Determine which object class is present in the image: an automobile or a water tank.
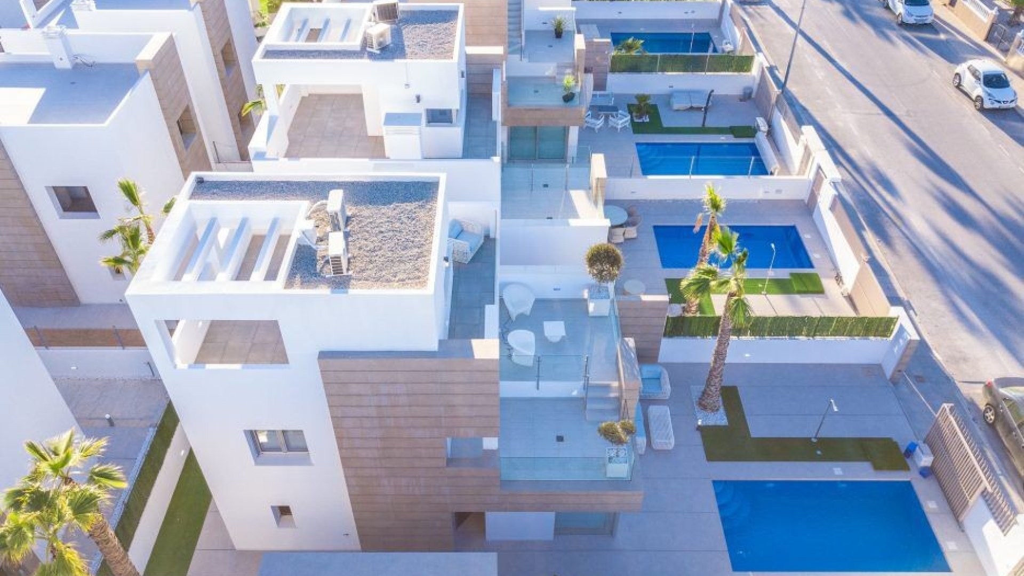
automobile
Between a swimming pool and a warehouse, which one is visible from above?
swimming pool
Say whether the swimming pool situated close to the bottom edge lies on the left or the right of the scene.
right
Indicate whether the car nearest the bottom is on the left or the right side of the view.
right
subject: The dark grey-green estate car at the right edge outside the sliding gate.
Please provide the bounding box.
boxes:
[984,379,1024,469]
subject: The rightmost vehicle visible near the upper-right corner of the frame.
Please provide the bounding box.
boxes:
[951,55,1019,104]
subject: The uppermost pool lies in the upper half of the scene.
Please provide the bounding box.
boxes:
[608,31,722,54]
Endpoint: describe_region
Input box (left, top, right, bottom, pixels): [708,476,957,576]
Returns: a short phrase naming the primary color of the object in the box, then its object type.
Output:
blue swimming pool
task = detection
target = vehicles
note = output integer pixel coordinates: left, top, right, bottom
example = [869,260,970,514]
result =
[984,379,1024,469]
[951,55,1019,104]
[882,0,937,21]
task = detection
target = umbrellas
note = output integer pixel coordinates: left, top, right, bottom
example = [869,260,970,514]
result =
[698,84,718,128]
